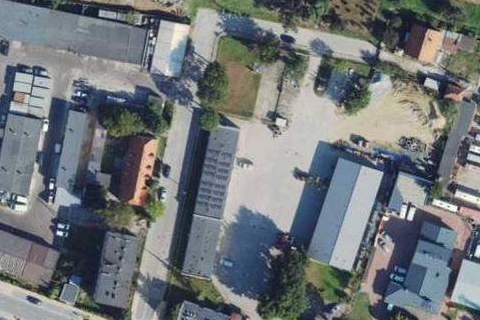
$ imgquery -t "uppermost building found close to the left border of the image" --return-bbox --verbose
[0,0,147,65]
